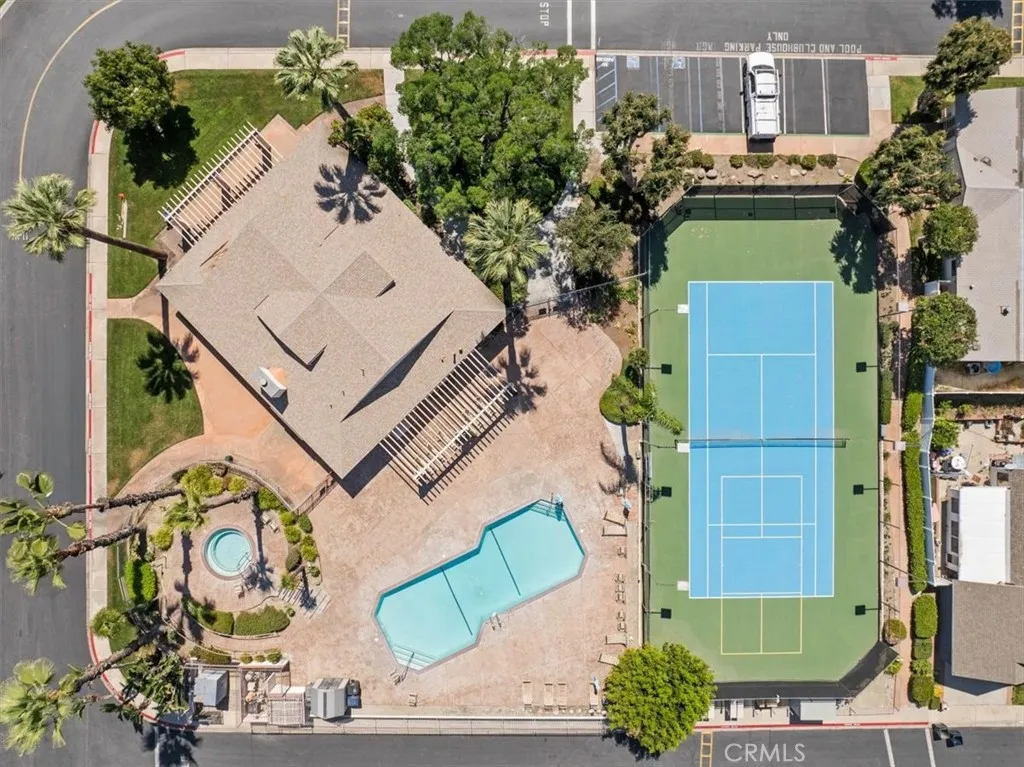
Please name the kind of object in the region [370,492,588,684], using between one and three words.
swimming pool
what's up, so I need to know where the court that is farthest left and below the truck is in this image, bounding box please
[652,198,877,681]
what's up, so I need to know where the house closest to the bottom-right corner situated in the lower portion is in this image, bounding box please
[933,573,1024,684]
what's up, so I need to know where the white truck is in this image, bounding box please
[742,54,781,140]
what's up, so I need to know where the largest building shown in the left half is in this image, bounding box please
[154,121,509,477]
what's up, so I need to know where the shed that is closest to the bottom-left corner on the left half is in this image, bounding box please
[311,679,352,722]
